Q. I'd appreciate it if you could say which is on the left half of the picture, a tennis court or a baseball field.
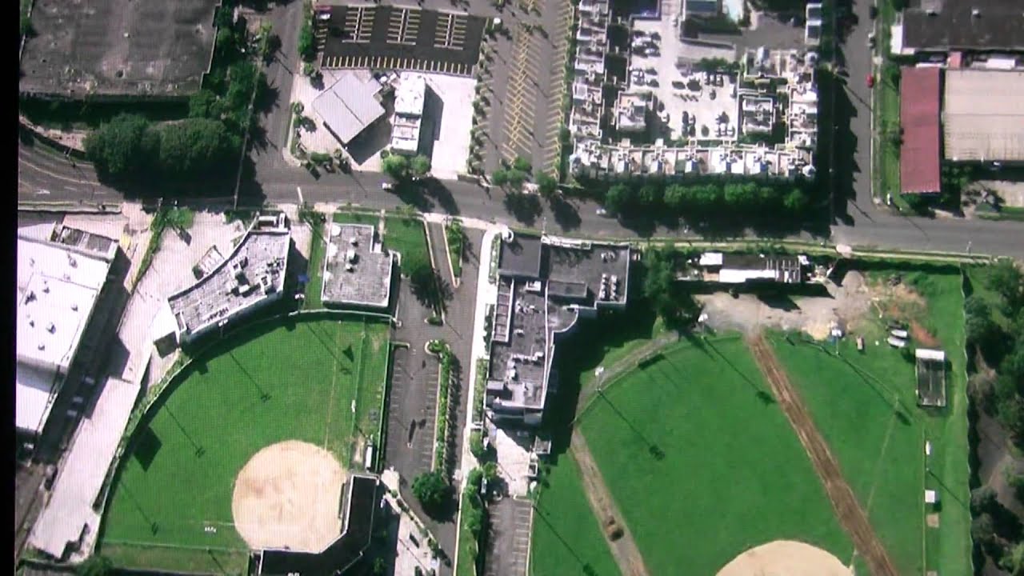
baseball field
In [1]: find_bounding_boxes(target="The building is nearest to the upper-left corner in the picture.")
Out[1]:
[18,0,222,101]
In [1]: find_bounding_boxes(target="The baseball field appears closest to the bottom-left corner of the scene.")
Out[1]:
[95,314,390,576]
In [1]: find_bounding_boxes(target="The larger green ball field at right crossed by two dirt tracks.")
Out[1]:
[528,336,923,576]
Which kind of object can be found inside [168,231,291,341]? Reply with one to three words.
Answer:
building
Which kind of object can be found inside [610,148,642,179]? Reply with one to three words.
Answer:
house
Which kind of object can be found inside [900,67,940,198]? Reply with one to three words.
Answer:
shed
